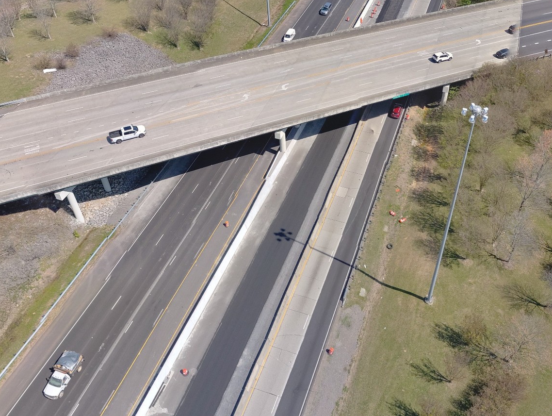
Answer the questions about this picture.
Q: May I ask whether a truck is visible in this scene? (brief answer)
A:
Yes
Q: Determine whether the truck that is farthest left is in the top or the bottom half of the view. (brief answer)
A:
bottom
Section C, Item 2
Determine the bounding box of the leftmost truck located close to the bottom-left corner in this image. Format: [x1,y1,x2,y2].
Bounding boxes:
[38,343,84,404]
